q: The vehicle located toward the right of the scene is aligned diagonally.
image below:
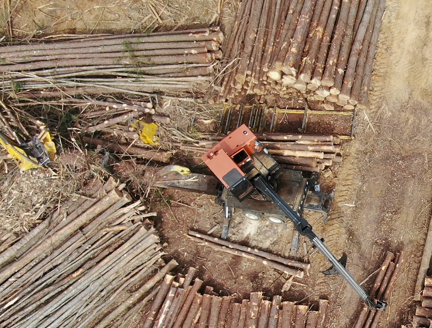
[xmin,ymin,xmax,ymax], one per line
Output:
[143,125,397,314]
